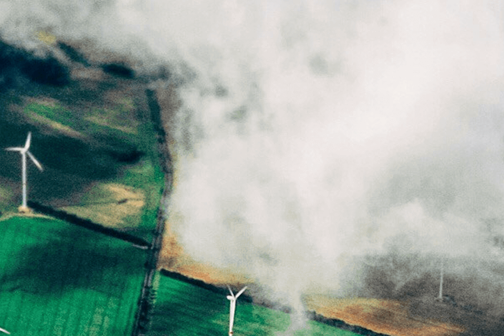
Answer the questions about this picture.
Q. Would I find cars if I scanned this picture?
No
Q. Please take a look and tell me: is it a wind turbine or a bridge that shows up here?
wind turbine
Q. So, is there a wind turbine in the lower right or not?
Yes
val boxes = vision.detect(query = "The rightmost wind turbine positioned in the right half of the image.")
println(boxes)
[424,225,461,300]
